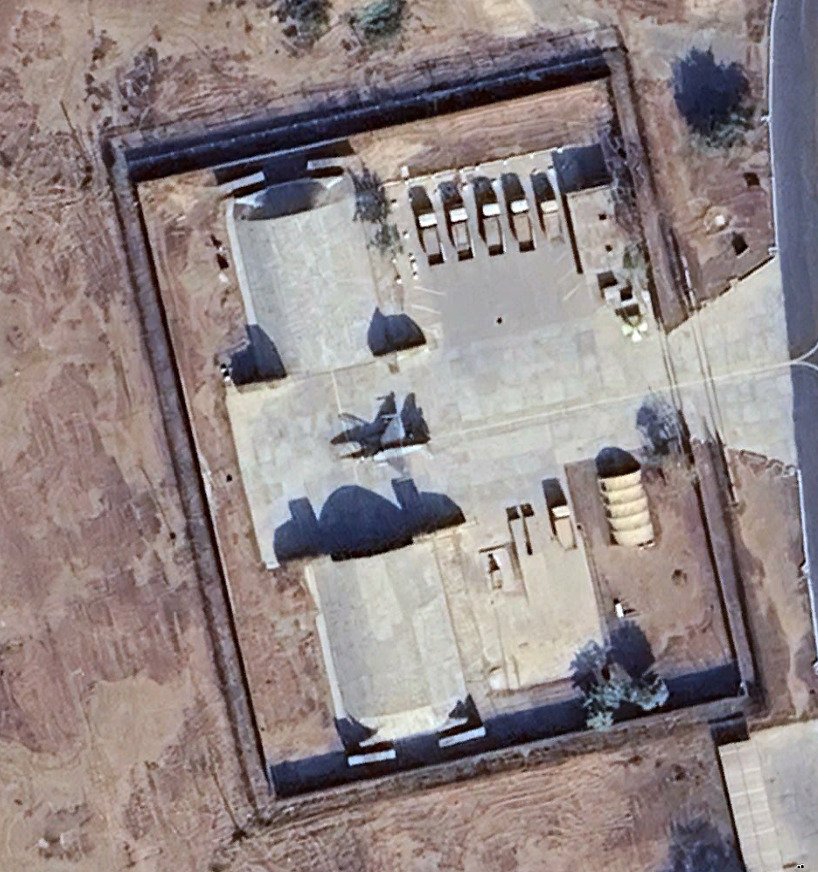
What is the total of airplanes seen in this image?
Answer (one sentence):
In total, 1 airplane can be seen.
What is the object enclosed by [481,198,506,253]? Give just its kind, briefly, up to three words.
truck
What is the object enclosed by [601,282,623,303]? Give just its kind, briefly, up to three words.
shed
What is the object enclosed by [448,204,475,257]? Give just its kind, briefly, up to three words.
truck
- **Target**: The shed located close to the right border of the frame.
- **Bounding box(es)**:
[714,733,786,872]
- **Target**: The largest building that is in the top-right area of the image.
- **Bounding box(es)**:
[563,177,626,270]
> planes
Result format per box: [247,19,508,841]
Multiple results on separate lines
[340,415,431,478]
